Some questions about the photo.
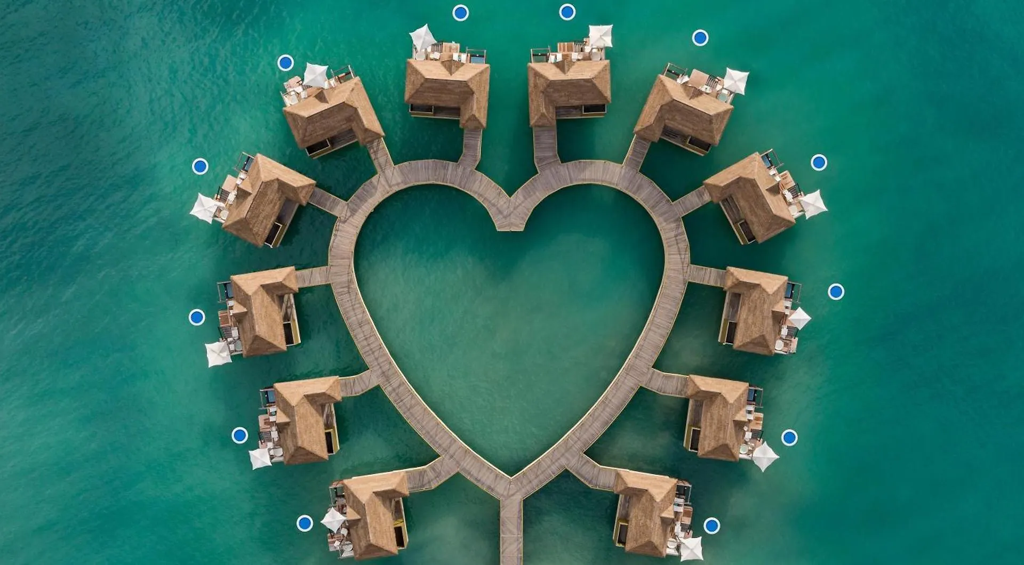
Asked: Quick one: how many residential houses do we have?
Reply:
12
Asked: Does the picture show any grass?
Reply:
No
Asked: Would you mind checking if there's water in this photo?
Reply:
Yes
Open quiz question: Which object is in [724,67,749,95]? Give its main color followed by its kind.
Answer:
white umbrella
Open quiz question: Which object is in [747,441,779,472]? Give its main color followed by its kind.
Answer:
white umbrella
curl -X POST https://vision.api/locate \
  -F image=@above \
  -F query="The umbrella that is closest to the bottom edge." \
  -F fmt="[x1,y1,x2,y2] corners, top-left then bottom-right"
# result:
[680,535,703,561]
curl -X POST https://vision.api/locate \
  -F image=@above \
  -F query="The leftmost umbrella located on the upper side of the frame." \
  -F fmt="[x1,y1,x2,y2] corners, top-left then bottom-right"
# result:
[190,193,222,223]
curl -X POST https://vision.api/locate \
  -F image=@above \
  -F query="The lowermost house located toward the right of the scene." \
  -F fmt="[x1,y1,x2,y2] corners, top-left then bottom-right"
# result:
[611,466,696,557]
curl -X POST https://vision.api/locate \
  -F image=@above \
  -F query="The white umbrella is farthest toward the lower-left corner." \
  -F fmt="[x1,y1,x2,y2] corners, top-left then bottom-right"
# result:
[249,448,276,470]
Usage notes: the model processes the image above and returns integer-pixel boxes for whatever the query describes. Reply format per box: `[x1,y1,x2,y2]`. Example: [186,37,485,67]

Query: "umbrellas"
[409,24,437,51]
[788,307,812,329]
[304,63,328,86]
[249,448,276,470]
[589,25,613,51]
[747,441,779,472]
[205,341,239,367]
[798,190,827,220]
[321,507,345,533]
[680,535,703,561]
[724,67,749,95]
[190,193,222,223]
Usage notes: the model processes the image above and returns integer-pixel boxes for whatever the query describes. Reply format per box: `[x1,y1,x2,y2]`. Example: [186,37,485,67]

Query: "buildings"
[283,60,385,163]
[702,146,802,248]
[215,148,317,252]
[611,466,696,557]
[633,58,734,159]
[257,374,345,466]
[716,266,804,355]
[527,38,611,126]
[682,374,766,461]
[214,266,304,357]
[325,467,412,560]
[405,38,490,128]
